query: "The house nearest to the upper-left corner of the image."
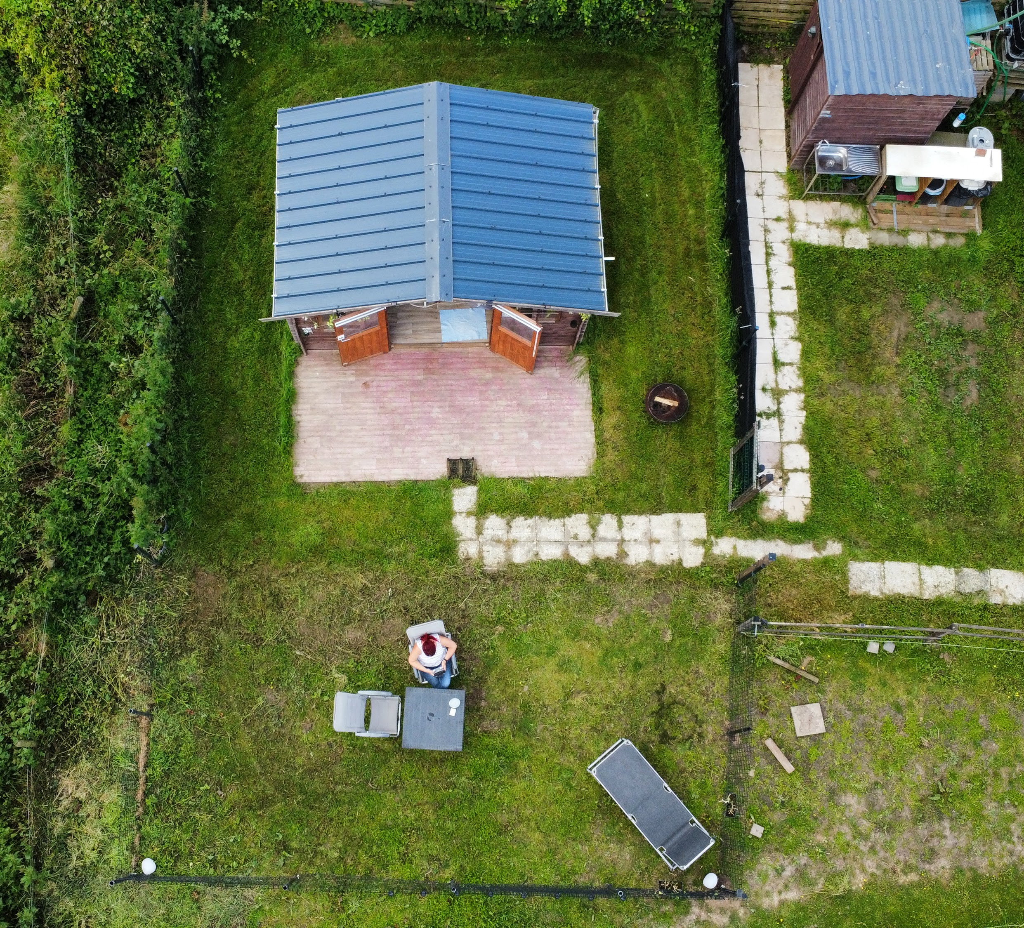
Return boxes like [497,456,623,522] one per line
[257,79,618,371]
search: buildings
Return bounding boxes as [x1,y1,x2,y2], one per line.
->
[779,0,979,169]
[257,79,618,371]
